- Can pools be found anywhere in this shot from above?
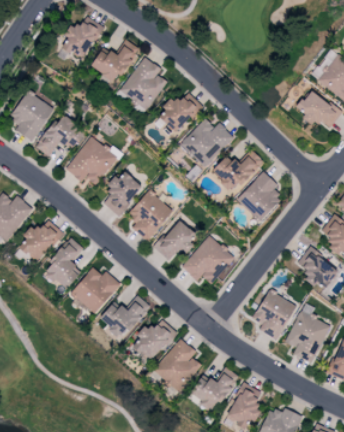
Yes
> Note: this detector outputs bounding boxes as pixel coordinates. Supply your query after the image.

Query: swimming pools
[272,270,288,288]
[146,127,166,145]
[332,272,344,294]
[233,206,248,228]
[166,181,186,200]
[200,176,222,195]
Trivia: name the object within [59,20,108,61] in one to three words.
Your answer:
house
